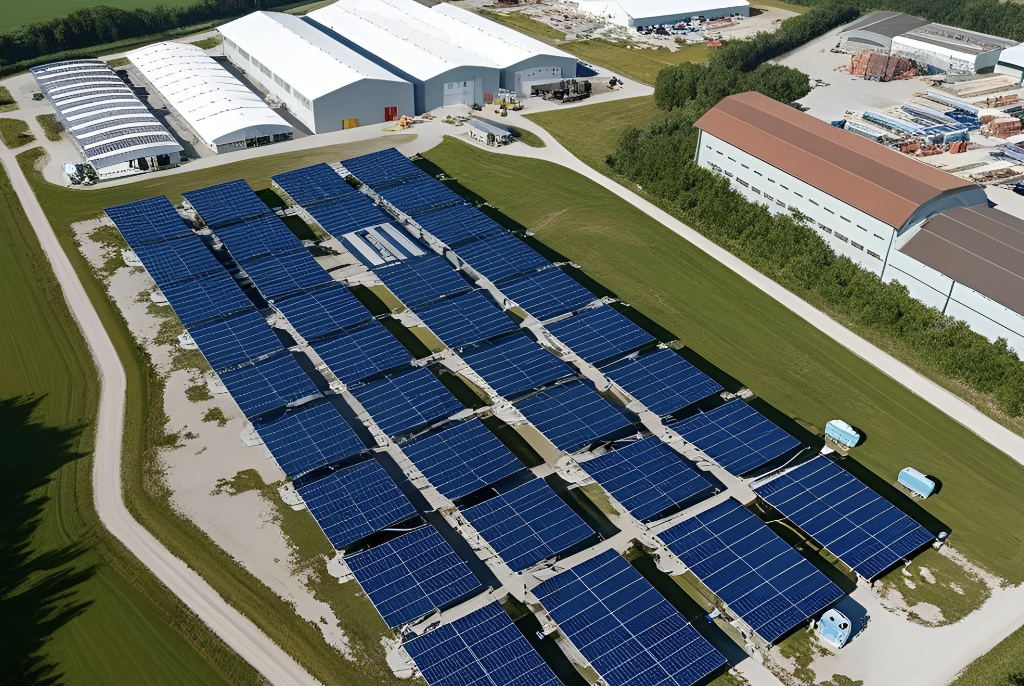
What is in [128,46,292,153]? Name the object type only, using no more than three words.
shed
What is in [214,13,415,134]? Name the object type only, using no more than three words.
building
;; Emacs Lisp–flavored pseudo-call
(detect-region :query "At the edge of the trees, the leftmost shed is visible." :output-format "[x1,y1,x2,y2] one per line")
[19,59,185,178]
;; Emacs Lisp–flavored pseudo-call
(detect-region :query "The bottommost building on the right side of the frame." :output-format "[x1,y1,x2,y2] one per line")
[881,202,1024,351]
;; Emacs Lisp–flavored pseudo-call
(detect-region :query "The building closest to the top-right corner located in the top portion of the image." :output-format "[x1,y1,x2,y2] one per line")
[996,38,1024,83]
